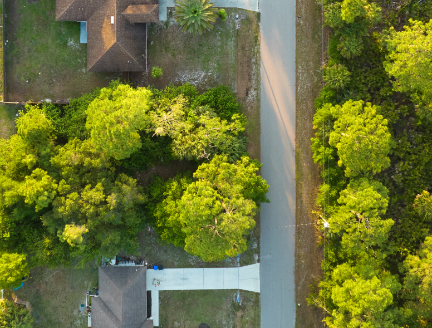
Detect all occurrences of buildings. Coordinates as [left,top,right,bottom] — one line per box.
[91,264,153,328]
[55,0,160,72]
